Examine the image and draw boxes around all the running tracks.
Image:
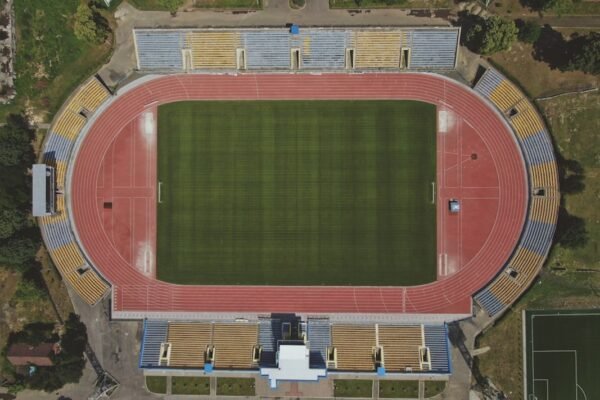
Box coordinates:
[68,70,530,319]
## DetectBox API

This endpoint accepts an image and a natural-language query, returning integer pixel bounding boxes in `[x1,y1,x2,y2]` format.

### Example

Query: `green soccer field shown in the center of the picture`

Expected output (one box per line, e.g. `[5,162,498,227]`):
[157,100,437,285]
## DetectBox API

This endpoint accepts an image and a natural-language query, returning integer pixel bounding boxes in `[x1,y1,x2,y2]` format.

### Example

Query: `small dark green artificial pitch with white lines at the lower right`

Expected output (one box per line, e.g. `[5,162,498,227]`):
[523,309,600,400]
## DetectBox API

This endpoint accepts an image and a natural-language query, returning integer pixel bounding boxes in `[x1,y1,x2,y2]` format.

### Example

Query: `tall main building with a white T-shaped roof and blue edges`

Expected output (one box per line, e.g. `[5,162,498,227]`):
[260,335,328,389]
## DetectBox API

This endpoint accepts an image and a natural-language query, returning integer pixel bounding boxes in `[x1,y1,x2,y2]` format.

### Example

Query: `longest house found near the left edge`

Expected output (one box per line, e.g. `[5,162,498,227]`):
[6,342,57,365]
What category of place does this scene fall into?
sports ground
